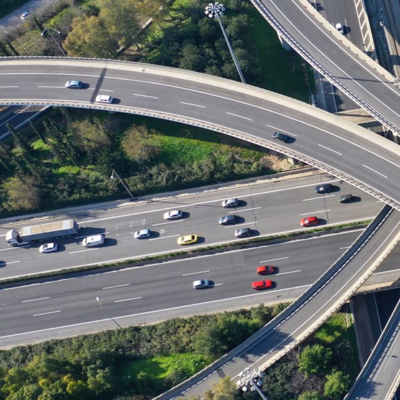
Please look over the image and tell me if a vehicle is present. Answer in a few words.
Yes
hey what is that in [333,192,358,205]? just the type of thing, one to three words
vehicle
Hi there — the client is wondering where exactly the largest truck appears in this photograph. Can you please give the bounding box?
[1,220,77,248]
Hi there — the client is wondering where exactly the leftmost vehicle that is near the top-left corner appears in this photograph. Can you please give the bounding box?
[18,8,33,22]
